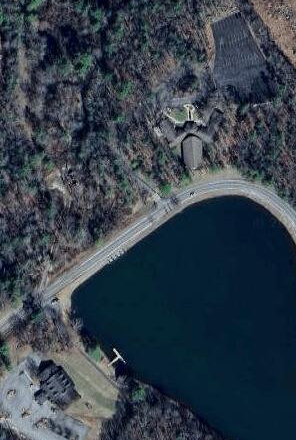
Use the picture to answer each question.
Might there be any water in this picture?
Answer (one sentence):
Yes, water shows up in the scene.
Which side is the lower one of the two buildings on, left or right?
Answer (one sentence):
The lower one of the two buildings appears in the left half of the scene.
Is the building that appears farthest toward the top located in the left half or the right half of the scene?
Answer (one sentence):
The building that appears farthest toward the top sits on the right side.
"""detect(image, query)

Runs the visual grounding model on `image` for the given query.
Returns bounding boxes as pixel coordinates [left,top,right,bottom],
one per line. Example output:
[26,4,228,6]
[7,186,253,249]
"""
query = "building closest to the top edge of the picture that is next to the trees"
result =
[161,106,225,169]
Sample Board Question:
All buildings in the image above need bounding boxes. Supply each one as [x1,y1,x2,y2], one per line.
[28,360,78,407]
[161,106,225,169]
